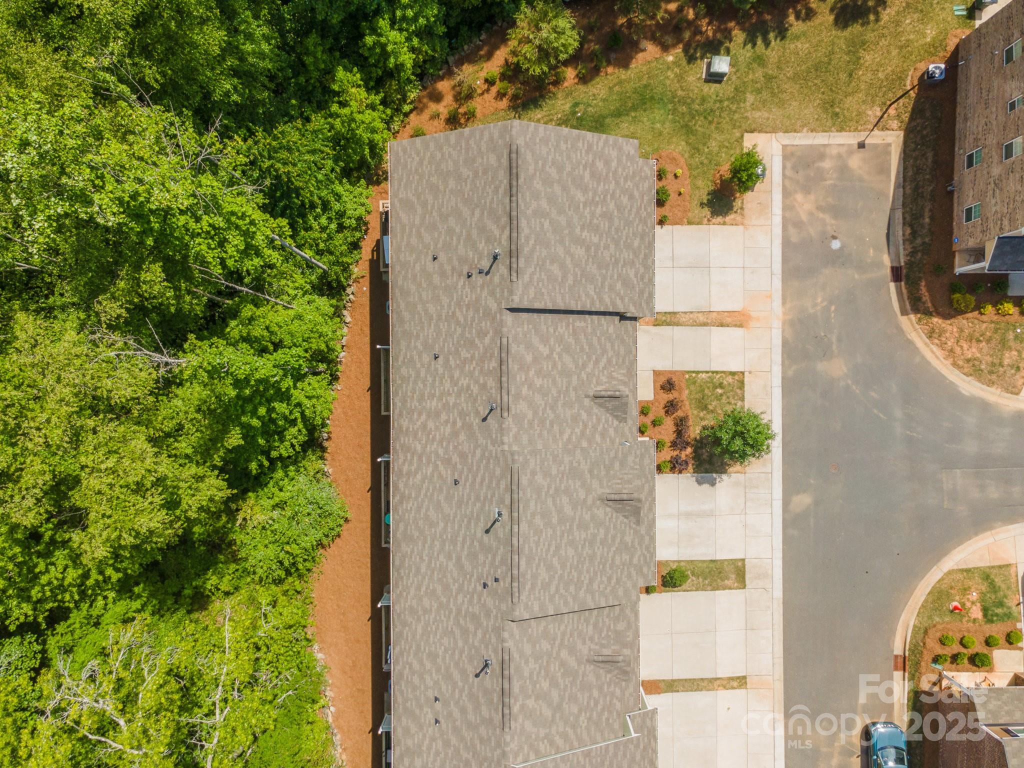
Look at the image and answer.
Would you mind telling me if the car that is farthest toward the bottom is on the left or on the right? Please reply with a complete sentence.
The car that is farthest toward the bottom appears in the right half of the scene.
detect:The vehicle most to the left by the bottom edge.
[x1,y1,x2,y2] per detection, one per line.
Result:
[866,719,912,768]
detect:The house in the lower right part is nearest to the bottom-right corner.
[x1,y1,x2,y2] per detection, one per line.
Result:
[939,670,1024,768]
